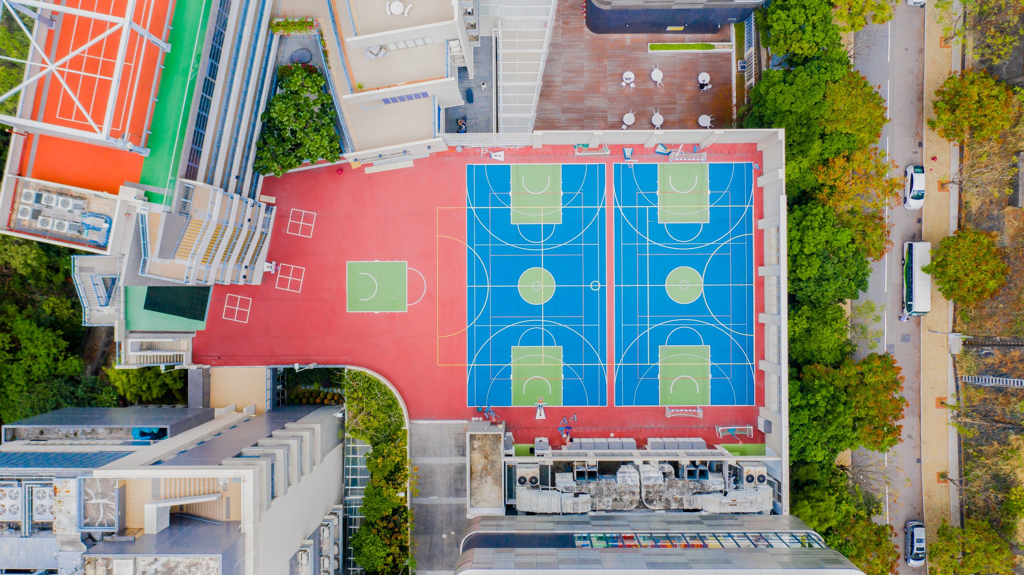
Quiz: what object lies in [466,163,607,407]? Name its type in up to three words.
basketball court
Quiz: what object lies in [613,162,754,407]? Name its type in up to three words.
basketball court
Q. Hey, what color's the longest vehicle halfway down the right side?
white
